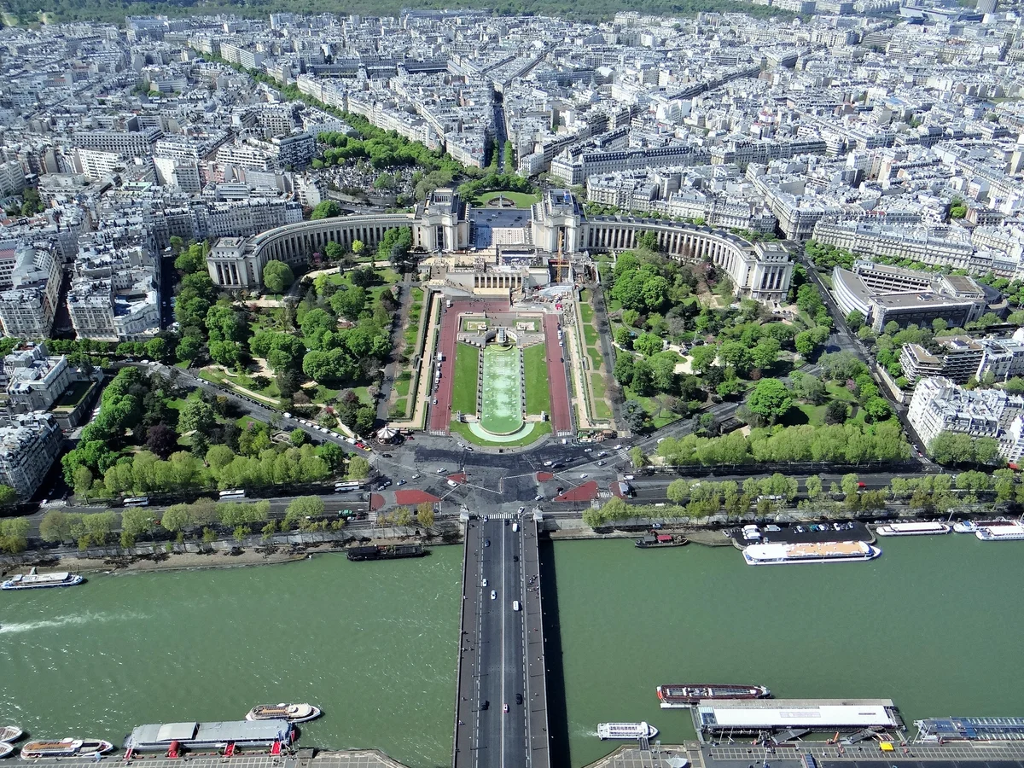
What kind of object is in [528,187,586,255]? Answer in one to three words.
building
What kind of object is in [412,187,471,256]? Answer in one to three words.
building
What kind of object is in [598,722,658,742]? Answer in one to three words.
boat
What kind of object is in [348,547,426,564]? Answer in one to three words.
vessel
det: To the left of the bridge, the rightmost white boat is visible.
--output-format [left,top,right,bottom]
[245,703,321,725]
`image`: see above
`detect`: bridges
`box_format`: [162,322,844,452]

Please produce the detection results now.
[452,522,552,768]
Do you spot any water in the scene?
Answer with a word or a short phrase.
Yes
